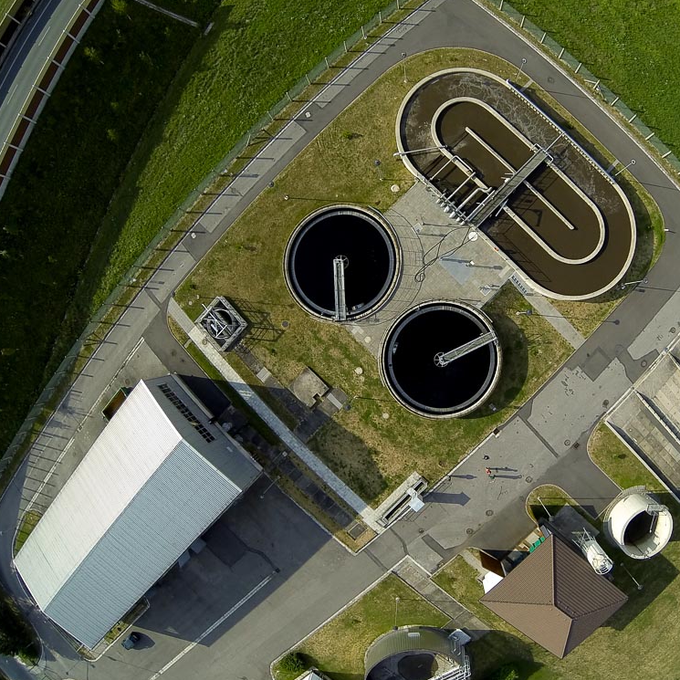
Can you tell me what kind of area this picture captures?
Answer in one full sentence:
What you see here is an industrial area.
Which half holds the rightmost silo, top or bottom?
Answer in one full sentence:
The rightmost silo sits in the bottom half of the picture.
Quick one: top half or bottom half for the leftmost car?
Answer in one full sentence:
Seen from above, the leftmost car lies in the bottom half of the view.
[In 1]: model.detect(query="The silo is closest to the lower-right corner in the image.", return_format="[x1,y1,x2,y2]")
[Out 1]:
[600,485,673,560]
